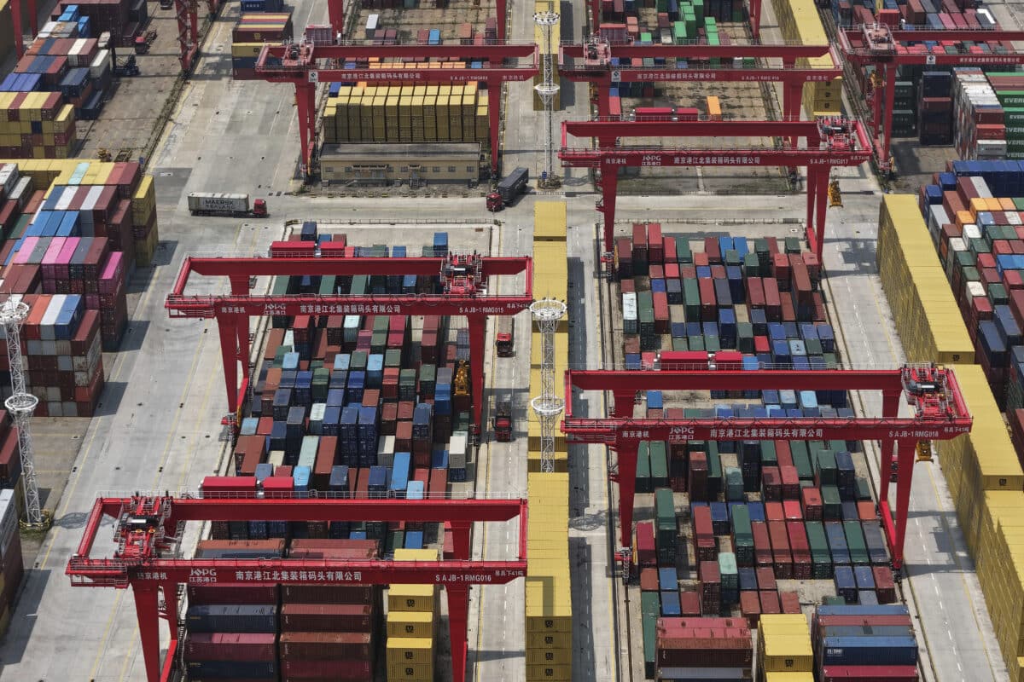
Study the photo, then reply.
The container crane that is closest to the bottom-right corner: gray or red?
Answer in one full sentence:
In this view, the container crane that is closest to the bottom-right corner is red.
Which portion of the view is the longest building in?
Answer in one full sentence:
Look in the top portion of the view to spot the longest building.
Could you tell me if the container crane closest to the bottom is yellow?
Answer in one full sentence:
No, the container crane closest to the bottom is red.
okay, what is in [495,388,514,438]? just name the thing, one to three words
vehicle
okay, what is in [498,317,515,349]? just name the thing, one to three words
vehicle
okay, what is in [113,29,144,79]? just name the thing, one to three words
work vehicle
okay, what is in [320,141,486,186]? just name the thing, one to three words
building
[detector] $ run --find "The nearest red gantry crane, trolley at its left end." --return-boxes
[62,470,532,682]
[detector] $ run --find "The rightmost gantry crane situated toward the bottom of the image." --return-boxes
[557,347,972,579]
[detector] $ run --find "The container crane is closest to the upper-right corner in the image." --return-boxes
[837,12,1024,165]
